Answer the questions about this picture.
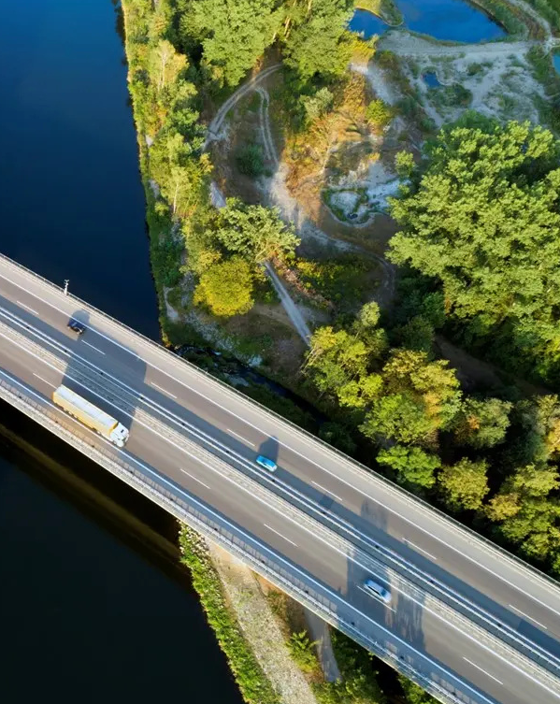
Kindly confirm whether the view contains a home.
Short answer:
No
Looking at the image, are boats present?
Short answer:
No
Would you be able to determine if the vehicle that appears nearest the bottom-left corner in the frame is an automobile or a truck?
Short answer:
truck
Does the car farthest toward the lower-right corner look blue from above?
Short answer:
Yes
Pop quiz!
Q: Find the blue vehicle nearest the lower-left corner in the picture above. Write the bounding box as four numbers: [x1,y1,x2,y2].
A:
[253,454,276,473]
